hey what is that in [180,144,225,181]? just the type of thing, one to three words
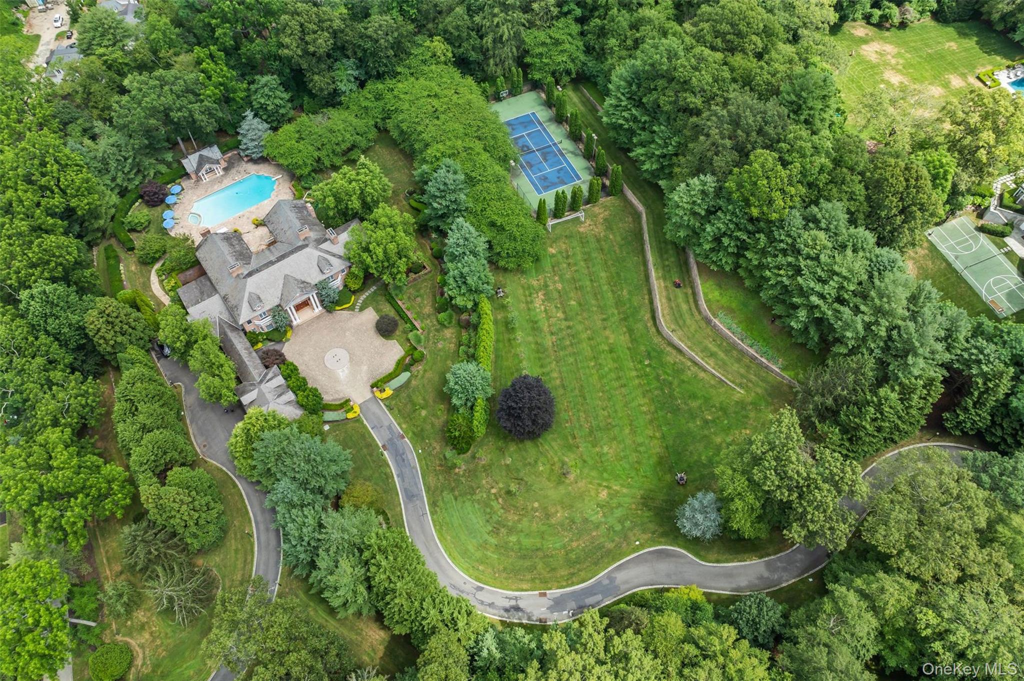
building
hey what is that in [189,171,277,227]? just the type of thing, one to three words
swimming pool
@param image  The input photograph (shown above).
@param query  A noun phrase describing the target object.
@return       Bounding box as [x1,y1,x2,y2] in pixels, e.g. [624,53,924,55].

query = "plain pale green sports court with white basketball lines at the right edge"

[926,221,1024,319]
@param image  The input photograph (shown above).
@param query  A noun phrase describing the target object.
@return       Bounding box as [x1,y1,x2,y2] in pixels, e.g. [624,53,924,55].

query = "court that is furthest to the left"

[474,90,611,219]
